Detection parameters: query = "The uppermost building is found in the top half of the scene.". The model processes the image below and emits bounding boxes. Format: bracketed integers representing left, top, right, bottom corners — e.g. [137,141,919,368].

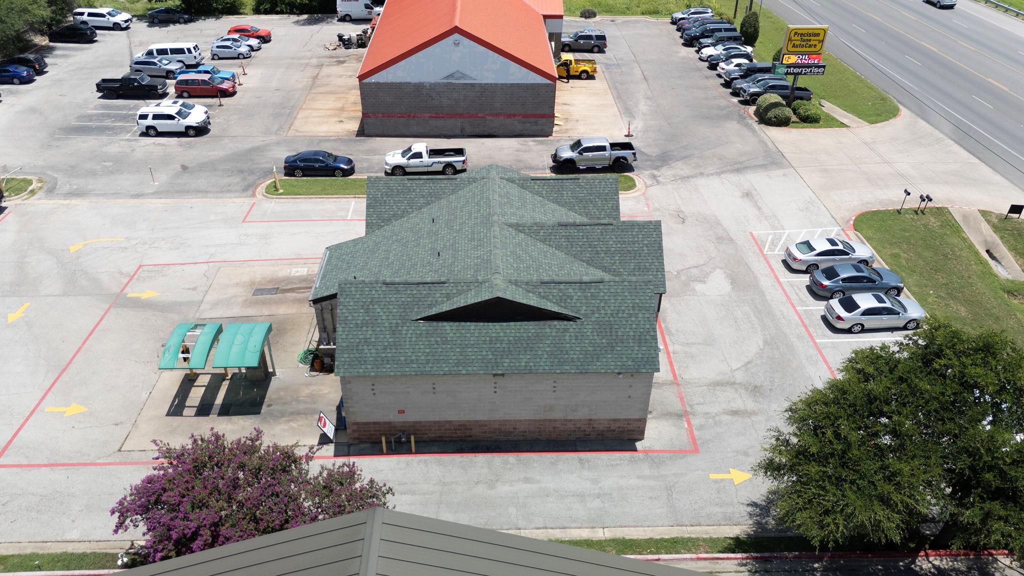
[356,0,564,136]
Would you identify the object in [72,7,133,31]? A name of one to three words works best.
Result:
car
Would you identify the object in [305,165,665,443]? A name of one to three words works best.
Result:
building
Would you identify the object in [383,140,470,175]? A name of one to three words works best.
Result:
truck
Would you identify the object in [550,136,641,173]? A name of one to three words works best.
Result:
truck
